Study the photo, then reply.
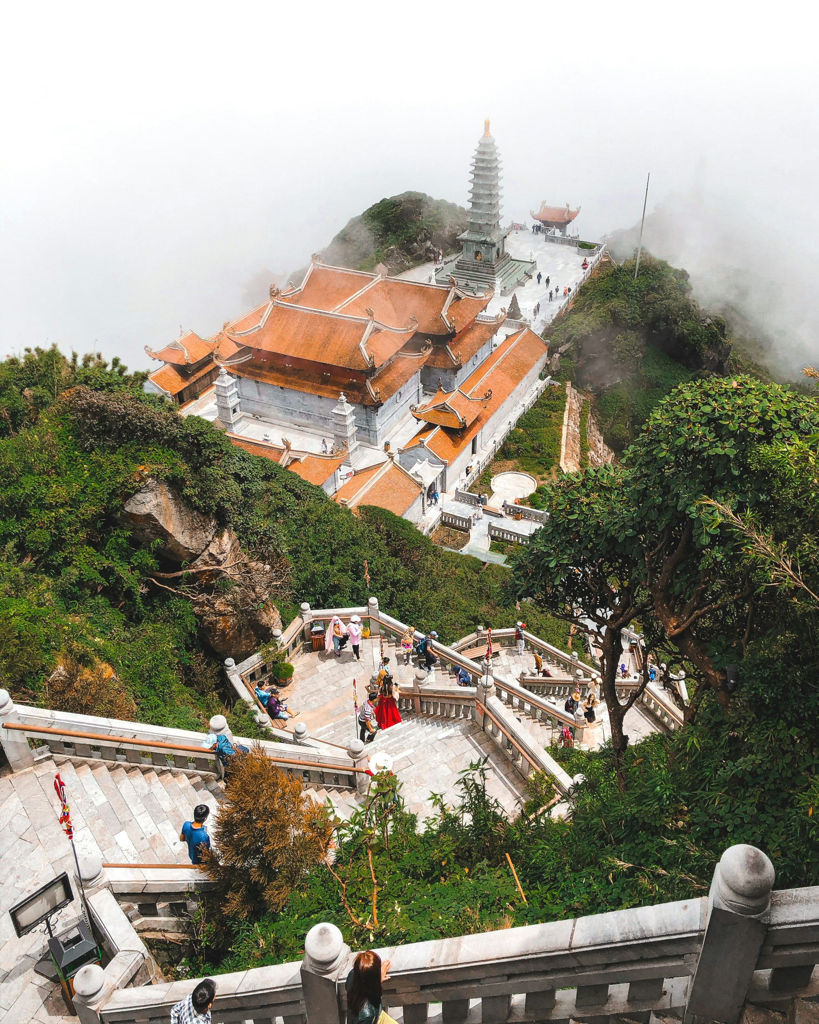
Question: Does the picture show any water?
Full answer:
Yes, water shows up in the scene.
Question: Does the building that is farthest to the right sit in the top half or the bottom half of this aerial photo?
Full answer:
The top half of the photo is where the building that is farthest to the right is.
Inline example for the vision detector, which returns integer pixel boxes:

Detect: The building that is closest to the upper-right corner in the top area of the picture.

[533,189,584,233]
